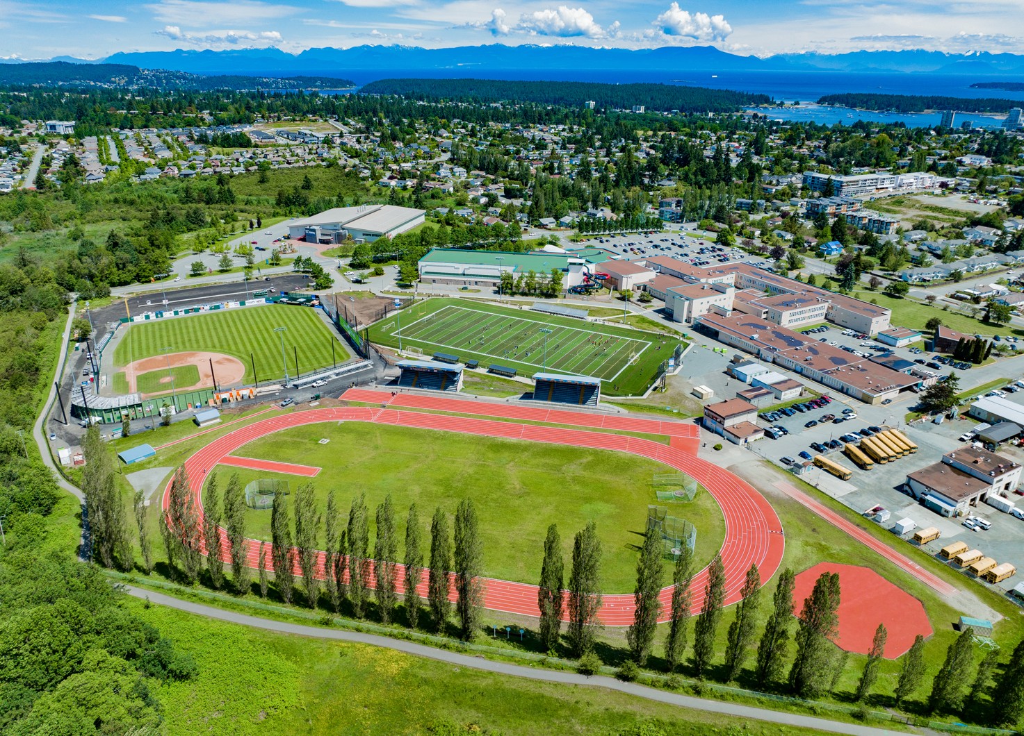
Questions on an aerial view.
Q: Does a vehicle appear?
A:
Yes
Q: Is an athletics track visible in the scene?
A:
Yes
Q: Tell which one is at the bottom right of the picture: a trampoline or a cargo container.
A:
cargo container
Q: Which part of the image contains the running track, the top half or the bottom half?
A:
bottom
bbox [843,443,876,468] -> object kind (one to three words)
bus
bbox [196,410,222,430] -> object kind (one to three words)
shed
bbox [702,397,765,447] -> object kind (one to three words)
building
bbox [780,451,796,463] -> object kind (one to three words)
vehicle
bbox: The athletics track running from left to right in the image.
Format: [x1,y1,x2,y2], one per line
[162,406,766,625]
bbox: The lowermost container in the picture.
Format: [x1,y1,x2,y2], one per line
[952,612,1003,640]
